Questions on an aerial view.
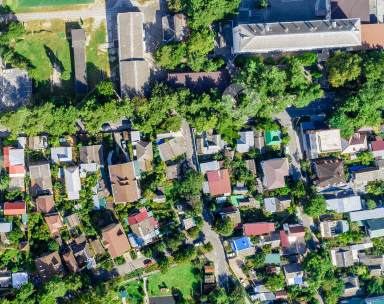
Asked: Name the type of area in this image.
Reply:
residential area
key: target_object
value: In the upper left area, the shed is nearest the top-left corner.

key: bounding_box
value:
[71,28,87,95]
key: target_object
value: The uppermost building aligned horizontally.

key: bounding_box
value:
[227,18,363,55]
